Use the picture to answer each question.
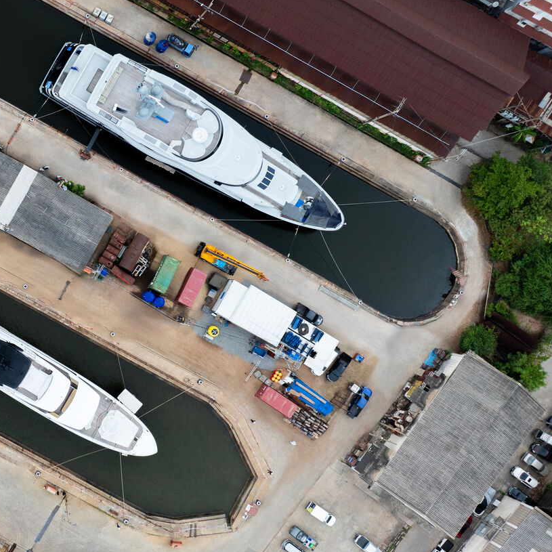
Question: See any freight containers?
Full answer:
Yes, the image includes a freight container.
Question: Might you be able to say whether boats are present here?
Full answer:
Yes, there is a boat in the image.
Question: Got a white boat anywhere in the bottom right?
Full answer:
No, no white boat is visible in the bottom right.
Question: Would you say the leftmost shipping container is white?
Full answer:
No, the leftmost shipping container is green.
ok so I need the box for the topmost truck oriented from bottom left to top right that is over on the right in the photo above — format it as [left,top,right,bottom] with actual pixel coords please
[325,351,354,382]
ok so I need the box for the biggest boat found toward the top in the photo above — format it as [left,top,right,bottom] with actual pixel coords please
[39,41,347,231]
